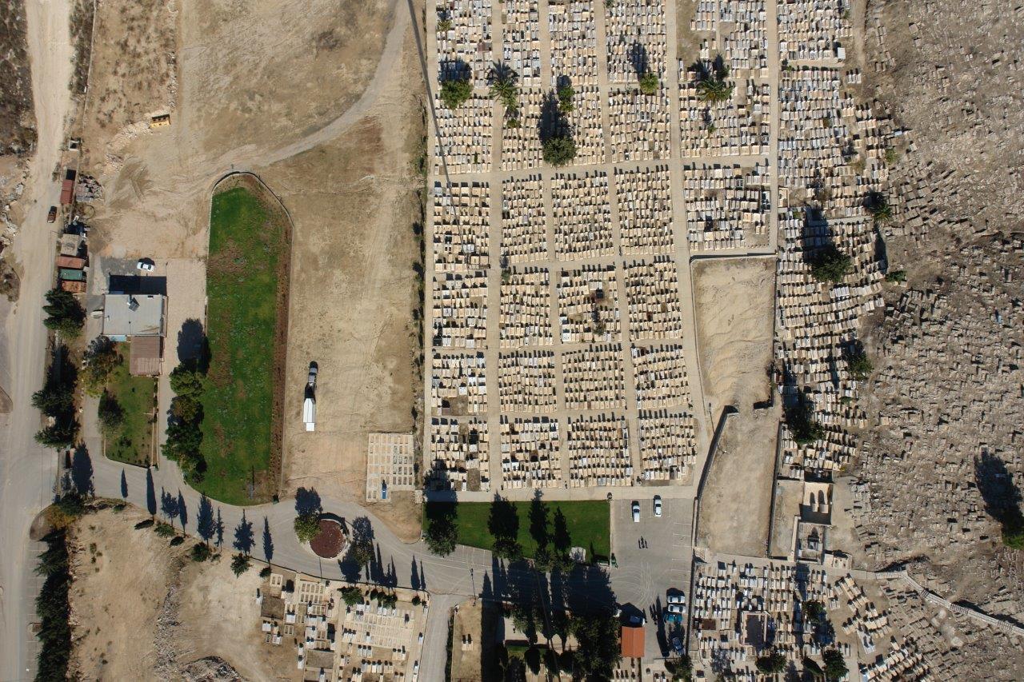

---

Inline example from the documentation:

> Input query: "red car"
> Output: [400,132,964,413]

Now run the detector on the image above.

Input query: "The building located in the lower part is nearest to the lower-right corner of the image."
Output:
[622,624,645,659]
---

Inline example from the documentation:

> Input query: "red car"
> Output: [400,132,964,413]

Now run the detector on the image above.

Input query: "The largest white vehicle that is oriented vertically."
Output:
[302,398,315,431]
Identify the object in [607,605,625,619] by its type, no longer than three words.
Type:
car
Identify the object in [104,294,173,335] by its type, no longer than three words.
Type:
house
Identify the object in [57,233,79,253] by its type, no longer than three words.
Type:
shed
